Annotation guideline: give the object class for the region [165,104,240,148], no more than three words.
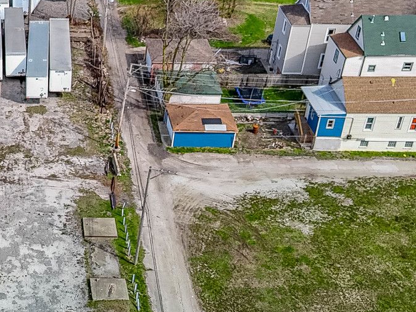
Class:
building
